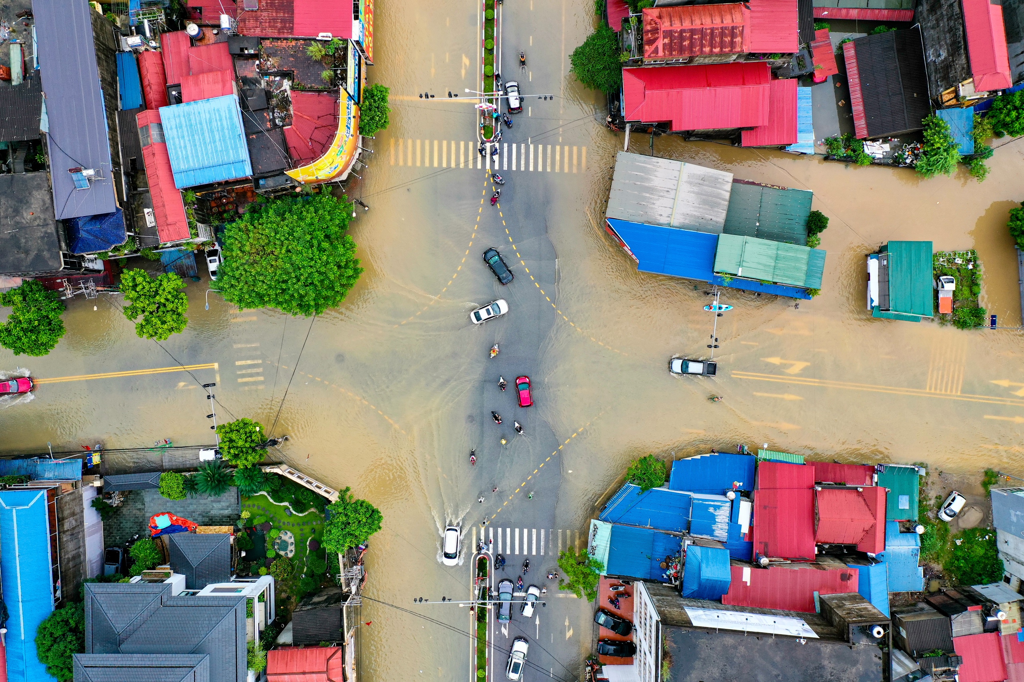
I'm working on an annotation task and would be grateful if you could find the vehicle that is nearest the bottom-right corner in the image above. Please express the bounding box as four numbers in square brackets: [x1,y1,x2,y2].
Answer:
[937,490,967,522]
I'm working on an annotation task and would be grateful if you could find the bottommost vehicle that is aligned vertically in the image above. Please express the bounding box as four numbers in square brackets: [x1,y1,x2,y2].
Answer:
[506,636,530,682]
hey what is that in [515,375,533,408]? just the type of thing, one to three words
car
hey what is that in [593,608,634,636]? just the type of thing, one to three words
car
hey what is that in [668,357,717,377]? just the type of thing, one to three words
vehicle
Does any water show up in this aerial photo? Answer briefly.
Yes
